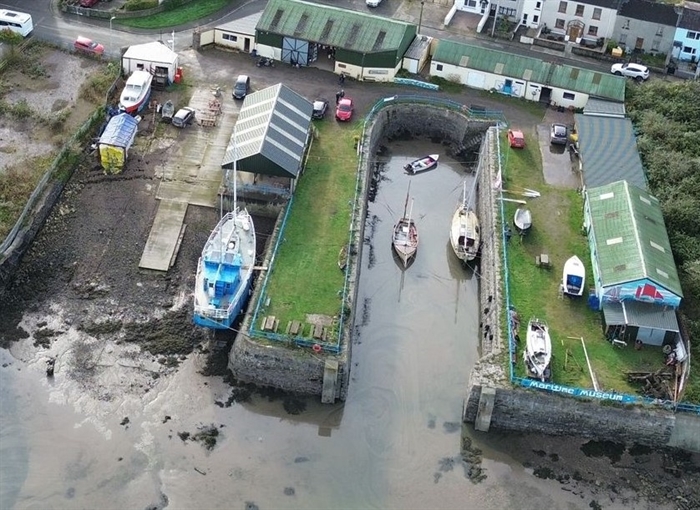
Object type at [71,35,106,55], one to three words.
car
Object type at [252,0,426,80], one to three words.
shed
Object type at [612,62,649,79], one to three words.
car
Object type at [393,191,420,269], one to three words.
boat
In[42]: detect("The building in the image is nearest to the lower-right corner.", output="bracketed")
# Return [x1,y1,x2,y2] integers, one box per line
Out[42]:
[578,179,686,355]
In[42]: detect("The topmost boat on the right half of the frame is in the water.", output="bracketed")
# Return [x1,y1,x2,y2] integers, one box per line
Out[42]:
[403,152,439,178]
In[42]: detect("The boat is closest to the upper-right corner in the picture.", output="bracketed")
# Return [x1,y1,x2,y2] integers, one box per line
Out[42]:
[513,204,531,232]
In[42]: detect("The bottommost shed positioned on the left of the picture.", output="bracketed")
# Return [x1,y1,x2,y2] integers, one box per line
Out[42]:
[219,85,318,199]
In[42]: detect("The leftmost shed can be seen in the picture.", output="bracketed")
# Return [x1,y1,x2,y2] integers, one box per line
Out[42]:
[118,41,187,84]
